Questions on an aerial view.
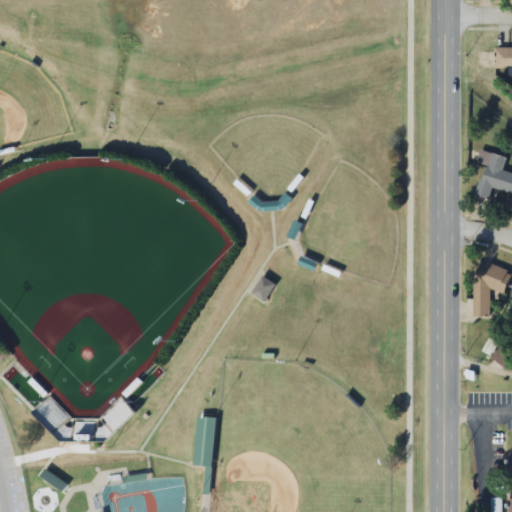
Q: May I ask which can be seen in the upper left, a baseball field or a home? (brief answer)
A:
baseball field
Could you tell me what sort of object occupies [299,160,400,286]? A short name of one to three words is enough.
baseball field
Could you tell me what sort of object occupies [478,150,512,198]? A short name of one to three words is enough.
house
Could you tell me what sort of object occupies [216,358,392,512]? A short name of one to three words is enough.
baseball field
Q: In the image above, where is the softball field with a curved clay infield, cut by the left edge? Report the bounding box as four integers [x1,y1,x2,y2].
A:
[0,49,74,150]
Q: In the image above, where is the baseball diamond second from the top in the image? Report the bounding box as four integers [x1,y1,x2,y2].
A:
[210,113,325,201]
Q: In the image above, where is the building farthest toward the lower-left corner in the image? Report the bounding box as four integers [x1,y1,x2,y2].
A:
[39,468,70,492]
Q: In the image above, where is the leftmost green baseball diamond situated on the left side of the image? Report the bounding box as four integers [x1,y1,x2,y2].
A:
[0,158,234,417]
